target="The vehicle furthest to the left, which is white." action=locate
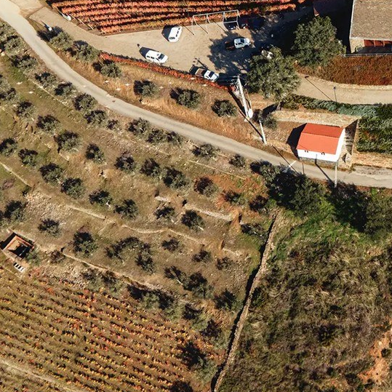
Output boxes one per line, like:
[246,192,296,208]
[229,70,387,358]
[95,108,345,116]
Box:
[142,47,167,64]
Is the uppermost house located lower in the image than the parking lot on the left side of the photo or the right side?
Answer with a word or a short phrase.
right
